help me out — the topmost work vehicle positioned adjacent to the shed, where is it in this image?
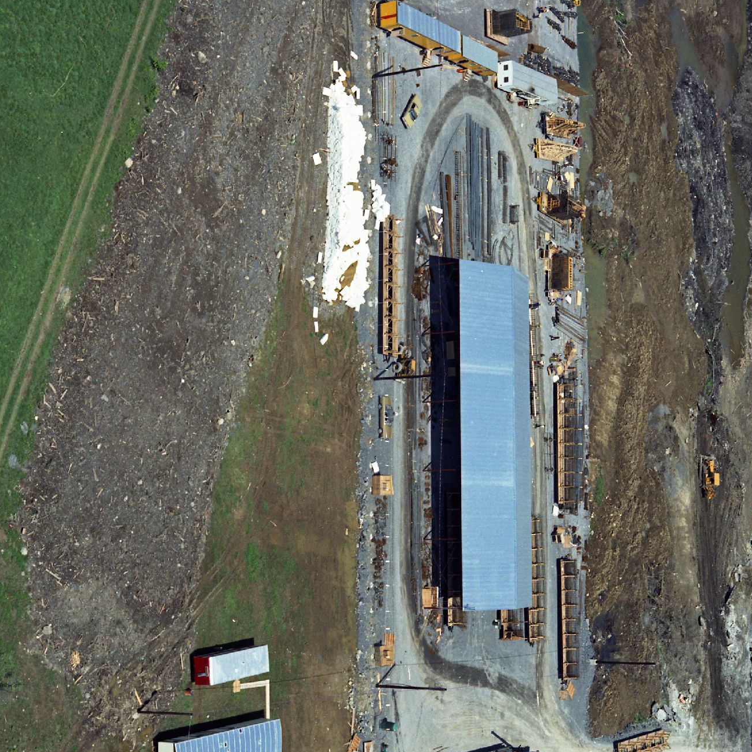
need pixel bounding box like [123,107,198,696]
[398,341,425,383]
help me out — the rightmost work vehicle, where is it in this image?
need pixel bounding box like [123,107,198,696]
[702,461,721,498]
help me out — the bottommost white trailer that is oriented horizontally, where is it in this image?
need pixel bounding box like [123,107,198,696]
[196,645,270,685]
